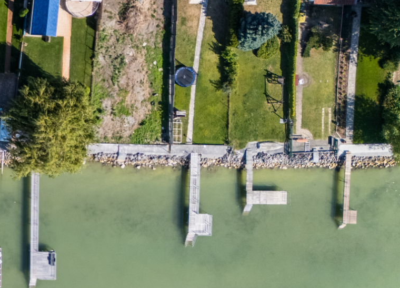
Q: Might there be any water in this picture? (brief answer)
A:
Yes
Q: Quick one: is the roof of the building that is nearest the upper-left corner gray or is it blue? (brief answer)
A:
blue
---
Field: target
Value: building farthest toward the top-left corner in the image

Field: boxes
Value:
[29,0,60,36]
